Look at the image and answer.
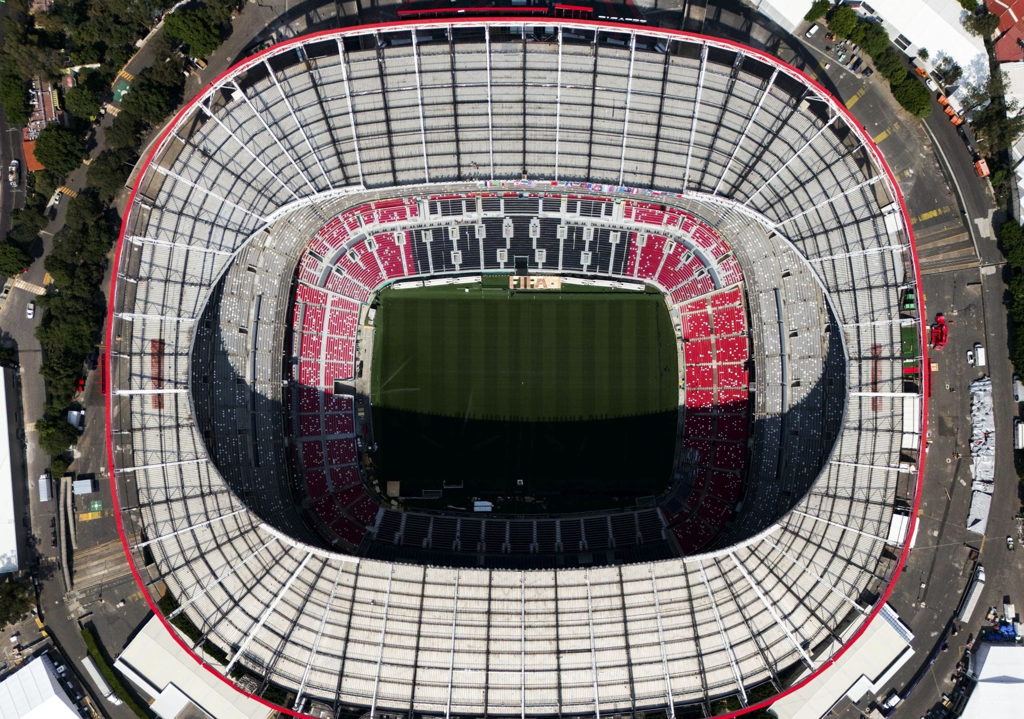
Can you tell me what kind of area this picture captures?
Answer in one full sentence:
What you see here is a sports ground.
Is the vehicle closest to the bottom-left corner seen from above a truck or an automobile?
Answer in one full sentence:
I'd identify the vehicle closest to the bottom-left corner as a truck.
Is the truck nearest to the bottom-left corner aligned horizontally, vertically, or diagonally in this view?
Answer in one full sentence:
The truck nearest to the bottom-left corner runs diagonally in the image.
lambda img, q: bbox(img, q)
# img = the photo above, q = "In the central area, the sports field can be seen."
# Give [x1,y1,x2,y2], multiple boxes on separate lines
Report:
[382,299,659,484]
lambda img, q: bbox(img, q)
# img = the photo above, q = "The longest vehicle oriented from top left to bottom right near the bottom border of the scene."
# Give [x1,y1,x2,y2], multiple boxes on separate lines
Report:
[74,656,122,707]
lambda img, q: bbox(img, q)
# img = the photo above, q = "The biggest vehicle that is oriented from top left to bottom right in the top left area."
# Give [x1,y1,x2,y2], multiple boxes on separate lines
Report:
[187,54,204,69]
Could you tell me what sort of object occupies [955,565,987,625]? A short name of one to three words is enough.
truck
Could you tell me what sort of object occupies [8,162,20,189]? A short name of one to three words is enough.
vehicle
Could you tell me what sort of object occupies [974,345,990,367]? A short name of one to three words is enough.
vehicle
